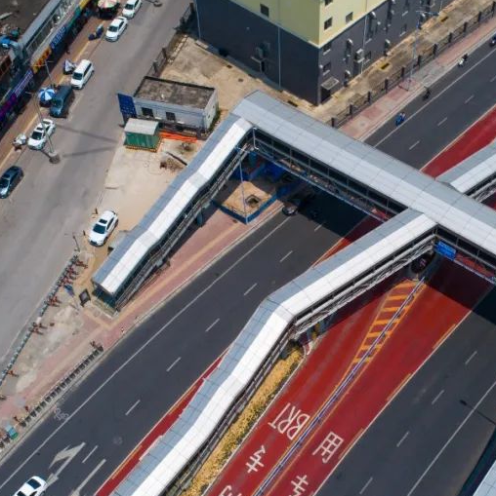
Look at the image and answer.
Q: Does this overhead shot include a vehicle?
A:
Yes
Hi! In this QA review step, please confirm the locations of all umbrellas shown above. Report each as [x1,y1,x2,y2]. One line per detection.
[97,0,120,19]
[38,91,58,110]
